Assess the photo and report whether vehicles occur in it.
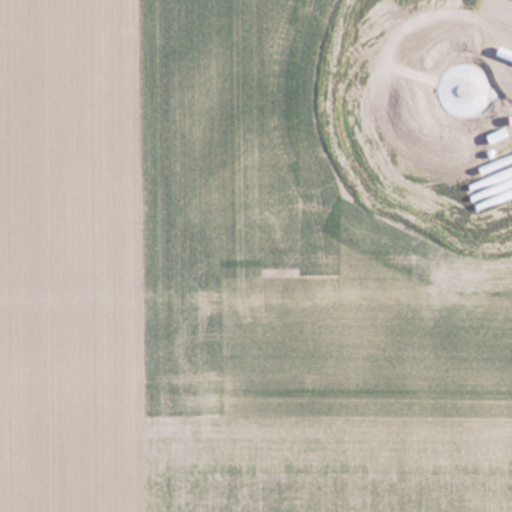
No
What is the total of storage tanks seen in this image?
one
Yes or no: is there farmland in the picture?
Yes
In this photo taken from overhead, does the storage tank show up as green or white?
white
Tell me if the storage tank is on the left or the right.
right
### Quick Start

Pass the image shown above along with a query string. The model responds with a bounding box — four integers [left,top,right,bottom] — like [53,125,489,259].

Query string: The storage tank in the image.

[438,64,498,118]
